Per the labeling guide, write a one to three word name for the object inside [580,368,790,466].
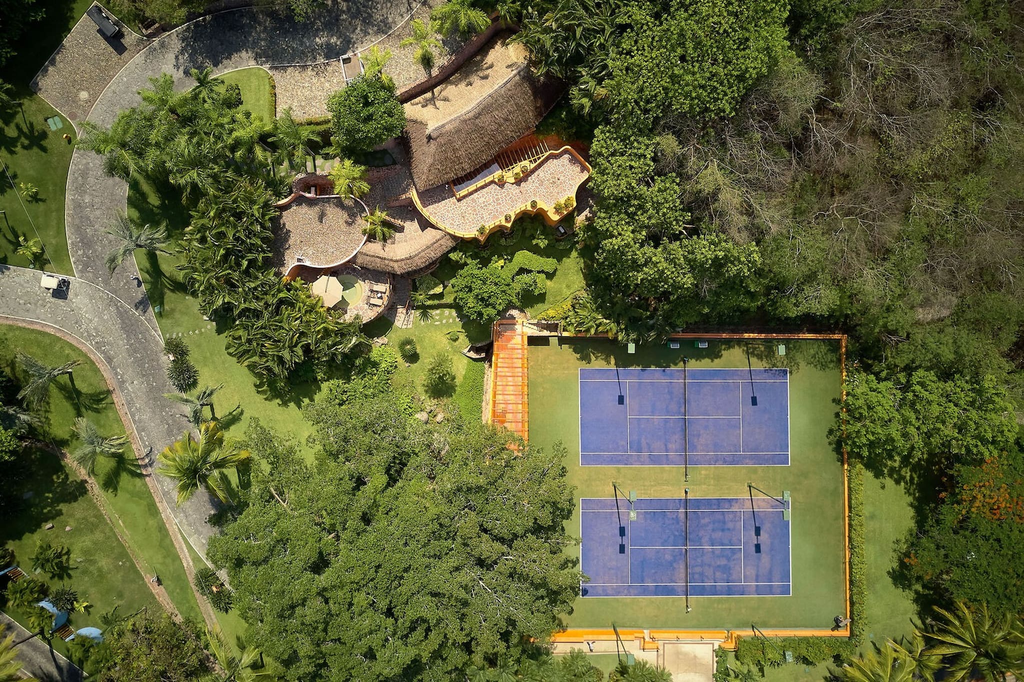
tennis court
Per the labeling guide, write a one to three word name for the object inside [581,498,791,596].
tennis court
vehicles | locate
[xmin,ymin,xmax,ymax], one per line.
[82,3,128,46]
[40,274,71,289]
